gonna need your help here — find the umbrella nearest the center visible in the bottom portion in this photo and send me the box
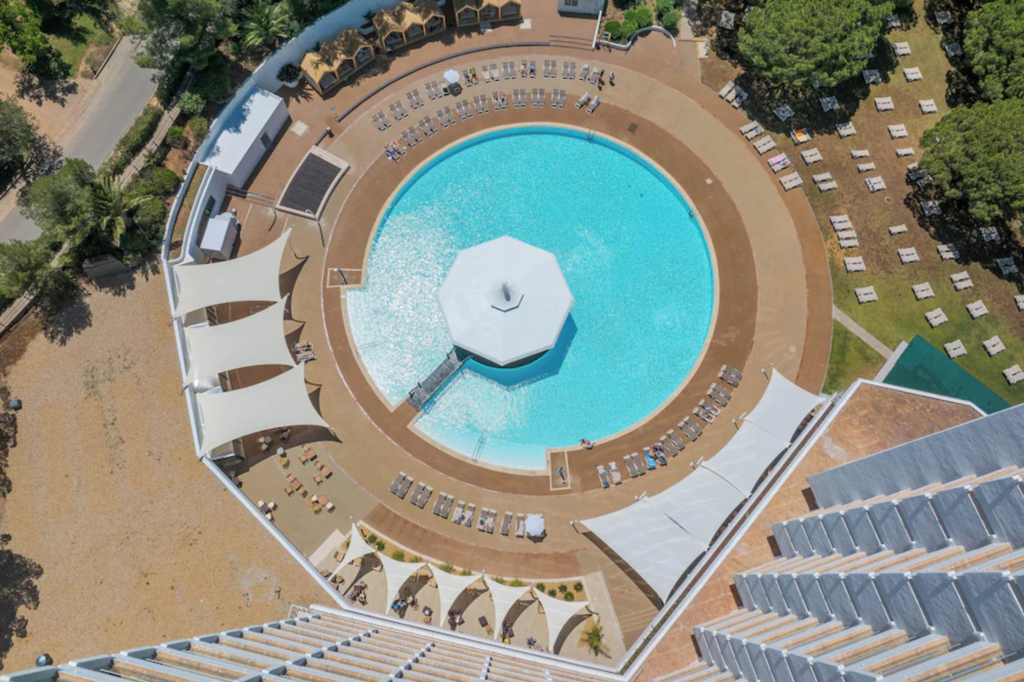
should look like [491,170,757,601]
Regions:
[524,514,546,537]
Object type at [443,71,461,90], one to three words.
umbrella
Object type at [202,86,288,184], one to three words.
shed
